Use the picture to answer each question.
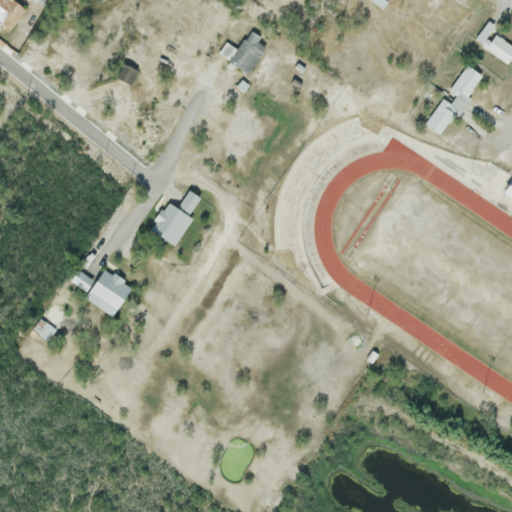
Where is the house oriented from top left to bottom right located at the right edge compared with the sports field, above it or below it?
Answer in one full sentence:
It's above the sports field that the house oriented from top left to bottom right located at the right edge shows up.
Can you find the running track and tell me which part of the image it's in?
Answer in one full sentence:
The running track is located in the right region of the scene.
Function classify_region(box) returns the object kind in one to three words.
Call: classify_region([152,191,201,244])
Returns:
house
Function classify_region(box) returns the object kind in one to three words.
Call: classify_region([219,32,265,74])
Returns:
house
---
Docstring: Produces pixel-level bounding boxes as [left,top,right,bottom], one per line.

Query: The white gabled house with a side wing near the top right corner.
[476,22,512,66]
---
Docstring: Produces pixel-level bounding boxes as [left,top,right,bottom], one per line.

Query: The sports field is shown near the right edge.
[332,170,512,380]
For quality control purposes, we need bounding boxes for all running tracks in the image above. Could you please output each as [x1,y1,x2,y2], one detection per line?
[315,137,512,401]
